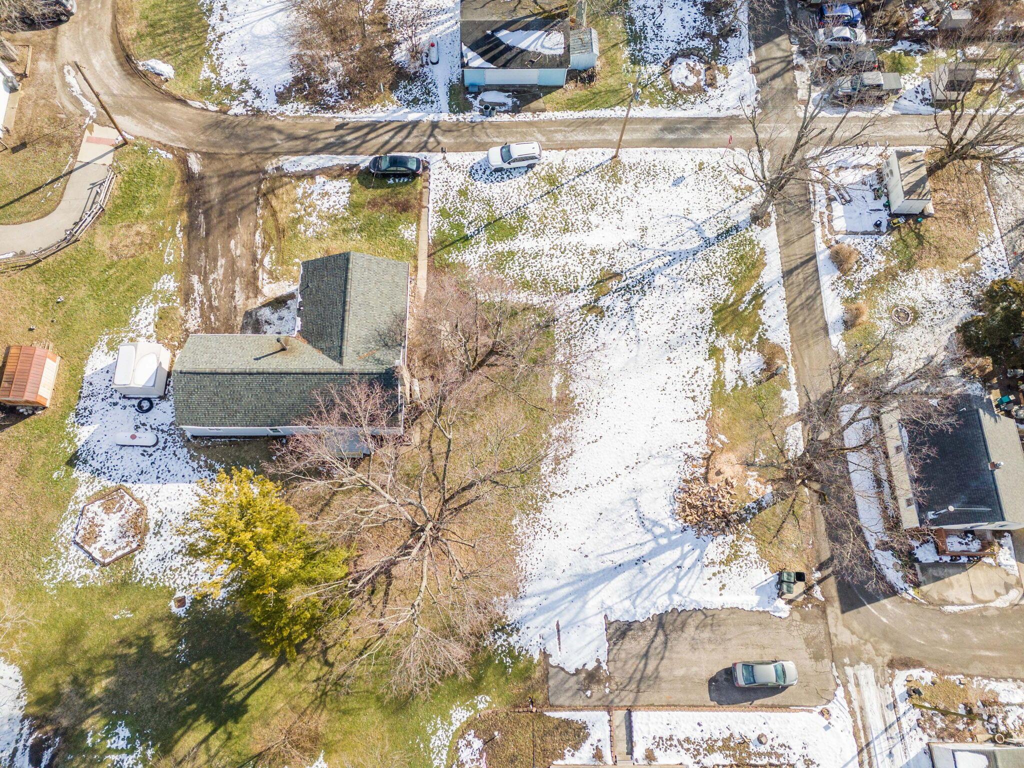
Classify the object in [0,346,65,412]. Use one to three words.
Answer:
shed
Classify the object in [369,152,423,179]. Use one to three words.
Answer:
car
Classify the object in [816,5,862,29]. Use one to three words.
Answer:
car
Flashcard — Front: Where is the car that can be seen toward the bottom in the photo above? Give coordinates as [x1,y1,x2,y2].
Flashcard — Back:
[731,658,798,689]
